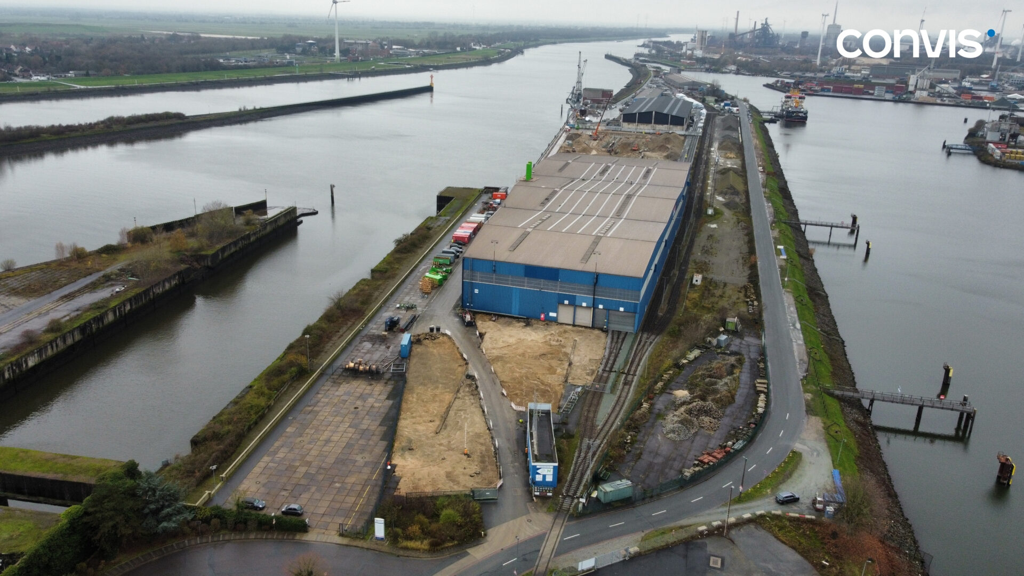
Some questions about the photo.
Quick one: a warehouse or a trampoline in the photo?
warehouse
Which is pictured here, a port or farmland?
port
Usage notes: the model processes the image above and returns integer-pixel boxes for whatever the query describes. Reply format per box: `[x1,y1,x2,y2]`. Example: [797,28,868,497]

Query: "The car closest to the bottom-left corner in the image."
[238,497,265,511]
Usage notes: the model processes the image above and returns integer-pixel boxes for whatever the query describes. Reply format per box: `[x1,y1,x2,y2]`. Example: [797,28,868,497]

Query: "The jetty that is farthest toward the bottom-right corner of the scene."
[824,384,978,444]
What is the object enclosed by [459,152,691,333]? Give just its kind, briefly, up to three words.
warehouse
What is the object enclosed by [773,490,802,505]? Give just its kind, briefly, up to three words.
car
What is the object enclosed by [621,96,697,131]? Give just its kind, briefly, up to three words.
building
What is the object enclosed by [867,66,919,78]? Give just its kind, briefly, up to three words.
building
